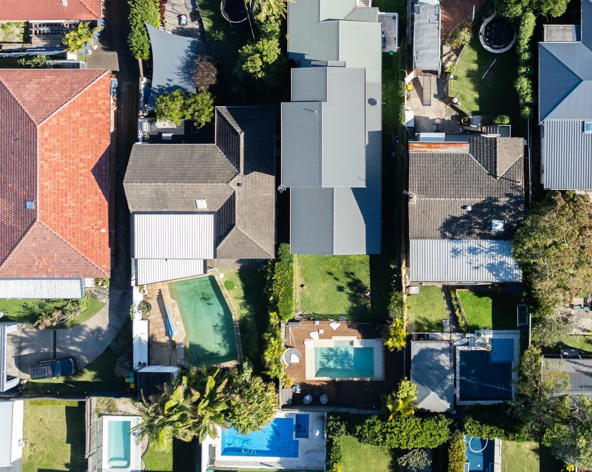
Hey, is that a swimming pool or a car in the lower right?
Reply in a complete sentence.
You can see a swimming pool in the lower right.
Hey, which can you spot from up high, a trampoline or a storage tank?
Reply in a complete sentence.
Visible in the photo is a trampoline.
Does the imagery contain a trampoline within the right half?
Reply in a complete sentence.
Yes, a trampoline is visible within the right half.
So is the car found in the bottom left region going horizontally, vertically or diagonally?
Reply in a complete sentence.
The car found in the bottom left region runs horizontally in the image.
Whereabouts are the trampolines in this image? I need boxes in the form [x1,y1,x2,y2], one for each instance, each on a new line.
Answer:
[216,0,256,26]
[479,17,516,54]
